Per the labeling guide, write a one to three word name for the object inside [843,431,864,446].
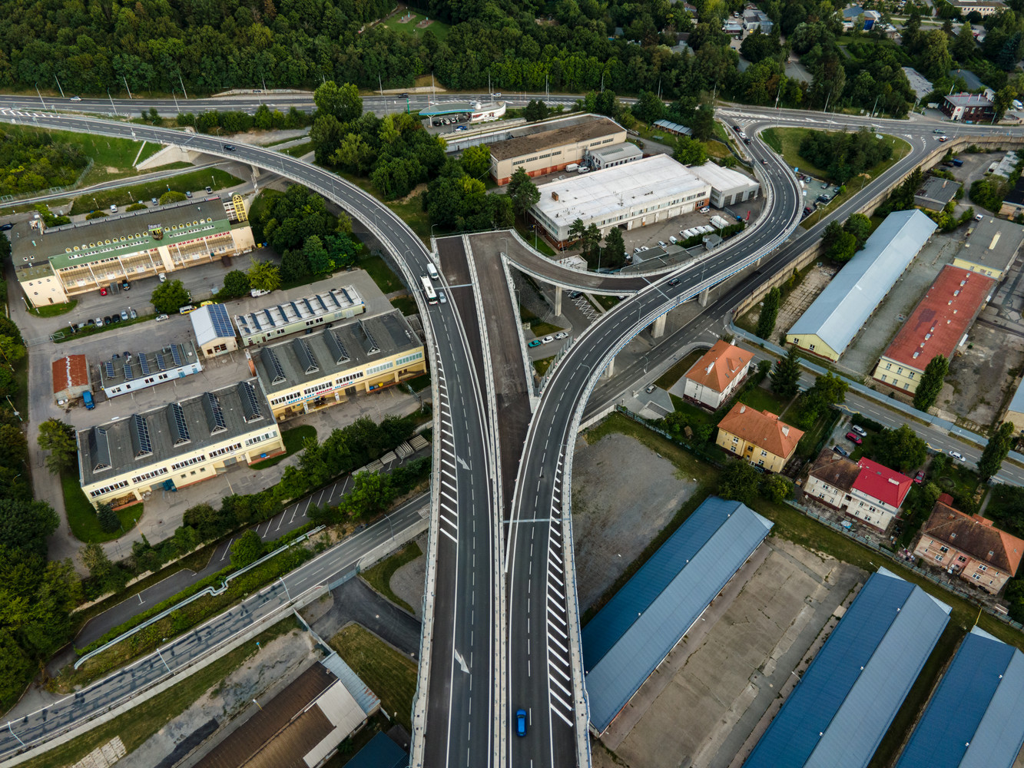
car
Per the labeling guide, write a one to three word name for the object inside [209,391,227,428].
solar array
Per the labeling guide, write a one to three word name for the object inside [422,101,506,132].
gas station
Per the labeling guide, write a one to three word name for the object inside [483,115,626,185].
building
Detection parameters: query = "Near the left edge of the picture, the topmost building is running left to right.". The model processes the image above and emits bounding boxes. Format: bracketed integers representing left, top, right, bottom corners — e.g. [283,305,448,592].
[19,189,258,307]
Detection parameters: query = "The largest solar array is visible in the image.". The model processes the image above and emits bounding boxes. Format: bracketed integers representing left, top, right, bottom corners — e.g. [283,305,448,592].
[208,303,237,336]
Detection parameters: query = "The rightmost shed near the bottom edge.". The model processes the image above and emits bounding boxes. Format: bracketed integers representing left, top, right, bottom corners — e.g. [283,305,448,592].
[886,626,1024,768]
